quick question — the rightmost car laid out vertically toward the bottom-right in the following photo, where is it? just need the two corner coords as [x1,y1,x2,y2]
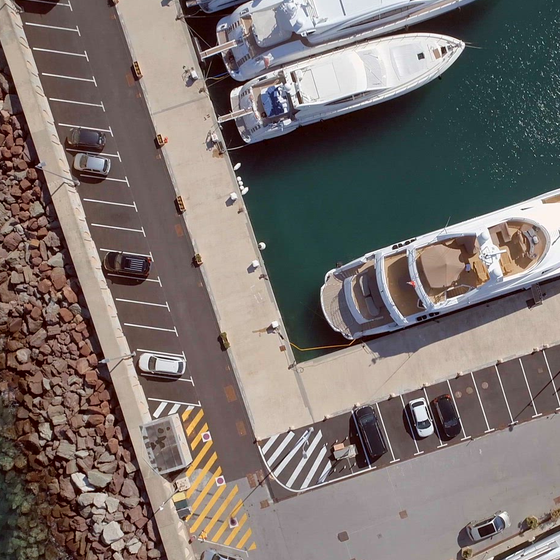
[434,394,459,437]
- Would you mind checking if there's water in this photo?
Yes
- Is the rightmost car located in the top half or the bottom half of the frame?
bottom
